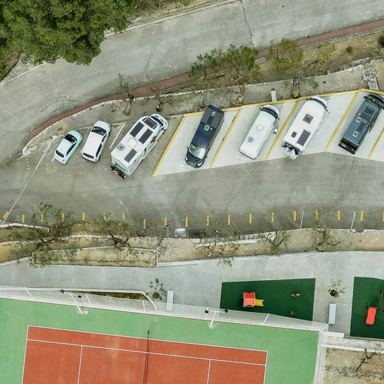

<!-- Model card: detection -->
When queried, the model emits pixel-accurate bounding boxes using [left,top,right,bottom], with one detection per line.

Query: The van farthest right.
[339,91,384,155]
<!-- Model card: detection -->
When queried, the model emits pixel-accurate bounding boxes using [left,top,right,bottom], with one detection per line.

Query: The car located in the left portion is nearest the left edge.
[54,129,83,165]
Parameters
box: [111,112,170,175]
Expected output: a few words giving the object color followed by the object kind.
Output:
white camper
